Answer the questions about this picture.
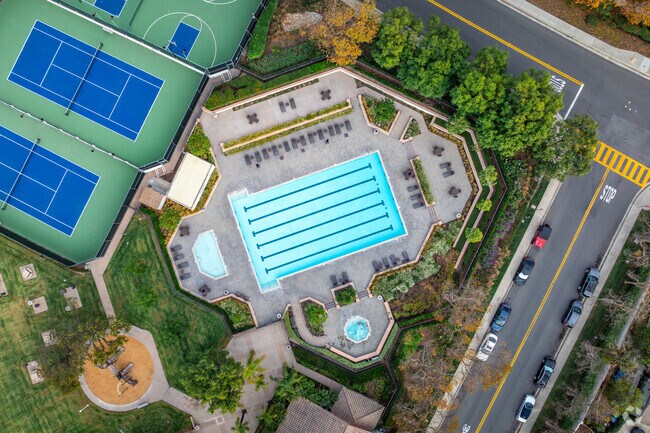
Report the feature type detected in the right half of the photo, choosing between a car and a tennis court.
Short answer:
car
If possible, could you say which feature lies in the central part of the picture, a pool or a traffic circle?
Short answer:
pool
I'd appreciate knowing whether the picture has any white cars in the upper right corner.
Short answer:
No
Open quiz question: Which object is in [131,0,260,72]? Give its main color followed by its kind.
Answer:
green basketball court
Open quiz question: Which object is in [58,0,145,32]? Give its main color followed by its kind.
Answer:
green basketball court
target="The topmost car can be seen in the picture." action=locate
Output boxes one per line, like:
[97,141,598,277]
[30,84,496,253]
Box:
[529,224,552,251]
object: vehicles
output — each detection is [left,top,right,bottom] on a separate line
[529,224,552,251]
[514,392,536,423]
[489,302,512,332]
[560,298,583,328]
[512,256,534,286]
[576,267,600,298]
[477,331,499,361]
[533,356,555,387]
